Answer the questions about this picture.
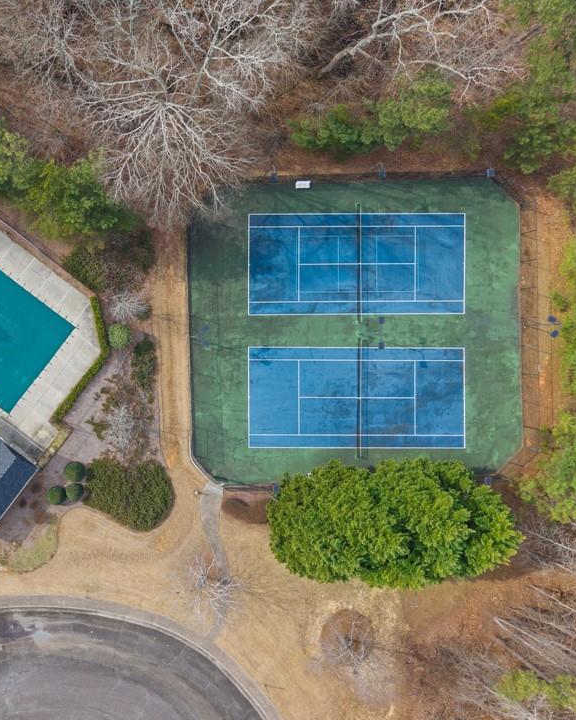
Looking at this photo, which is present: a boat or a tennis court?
tennis court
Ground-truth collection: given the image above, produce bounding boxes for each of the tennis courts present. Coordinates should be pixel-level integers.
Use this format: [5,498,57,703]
[248,213,466,315]
[248,347,466,449]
